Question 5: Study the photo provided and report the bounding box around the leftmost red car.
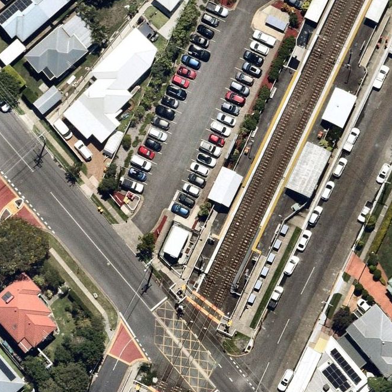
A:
[136,147,156,162]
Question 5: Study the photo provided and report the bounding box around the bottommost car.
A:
[279,371,293,391]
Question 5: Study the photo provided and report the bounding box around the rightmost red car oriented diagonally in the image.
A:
[225,92,244,108]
